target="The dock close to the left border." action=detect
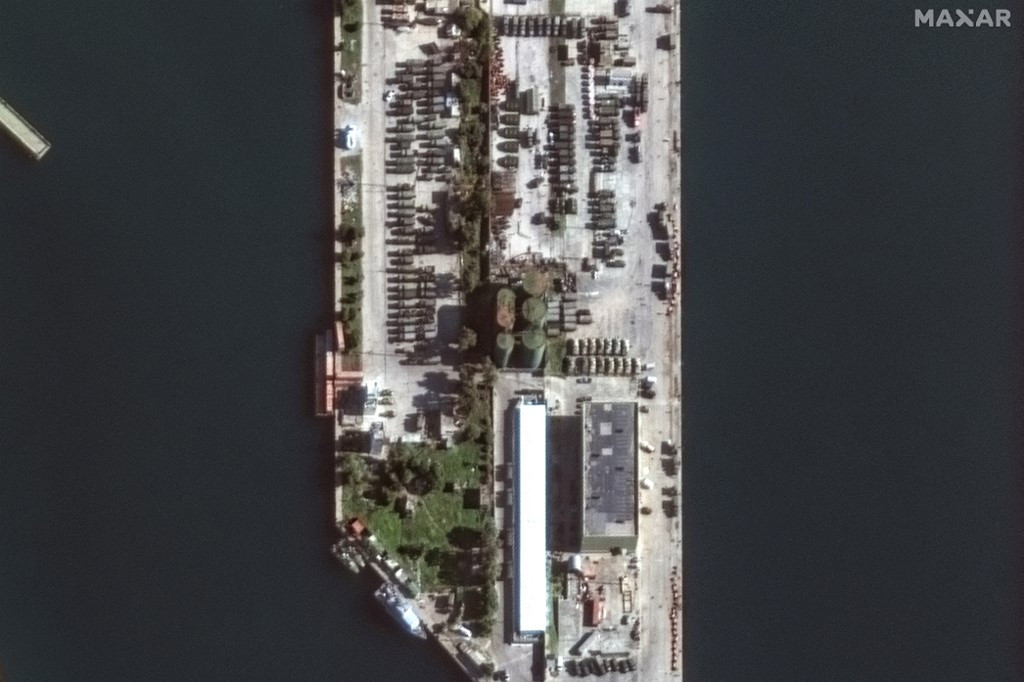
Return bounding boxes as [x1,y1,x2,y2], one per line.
[0,99,50,161]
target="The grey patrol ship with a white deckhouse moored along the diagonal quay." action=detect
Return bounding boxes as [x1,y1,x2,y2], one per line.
[374,581,428,641]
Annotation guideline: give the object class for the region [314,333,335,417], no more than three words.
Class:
pier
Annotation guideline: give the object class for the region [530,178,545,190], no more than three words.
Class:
vehicle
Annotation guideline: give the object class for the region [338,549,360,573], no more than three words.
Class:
boat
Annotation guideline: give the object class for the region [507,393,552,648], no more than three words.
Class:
building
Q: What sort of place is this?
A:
port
